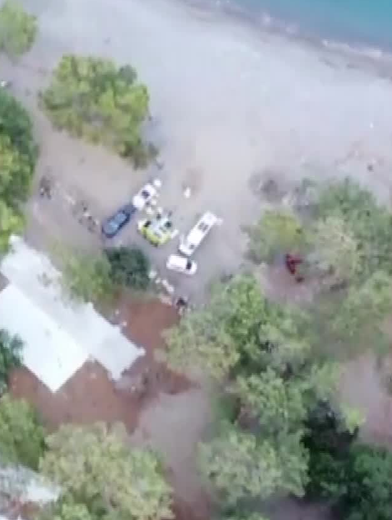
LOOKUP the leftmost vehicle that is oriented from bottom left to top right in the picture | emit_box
[101,203,139,243]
